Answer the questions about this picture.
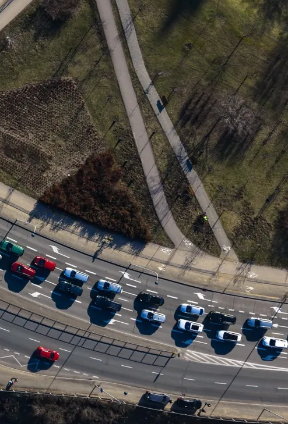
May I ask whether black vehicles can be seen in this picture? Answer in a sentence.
Yes, the picture does show a black vehicle.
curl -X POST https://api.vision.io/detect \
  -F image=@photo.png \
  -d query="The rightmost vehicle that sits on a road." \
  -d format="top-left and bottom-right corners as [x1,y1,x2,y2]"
[262,335,288,350]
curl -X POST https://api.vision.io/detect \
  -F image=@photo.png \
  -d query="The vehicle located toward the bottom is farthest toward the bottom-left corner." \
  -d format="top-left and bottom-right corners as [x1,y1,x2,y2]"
[34,347,59,361]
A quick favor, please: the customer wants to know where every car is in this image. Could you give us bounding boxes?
[10,260,36,280]
[63,266,90,284]
[246,315,273,330]
[176,397,201,411]
[140,308,167,325]
[176,317,205,334]
[32,255,57,273]
[215,329,242,343]
[93,294,122,314]
[57,278,84,297]
[262,335,288,350]
[179,302,205,317]
[0,238,25,258]
[34,347,59,361]
[207,310,238,326]
[145,391,171,406]
[137,292,164,307]
[96,278,123,294]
